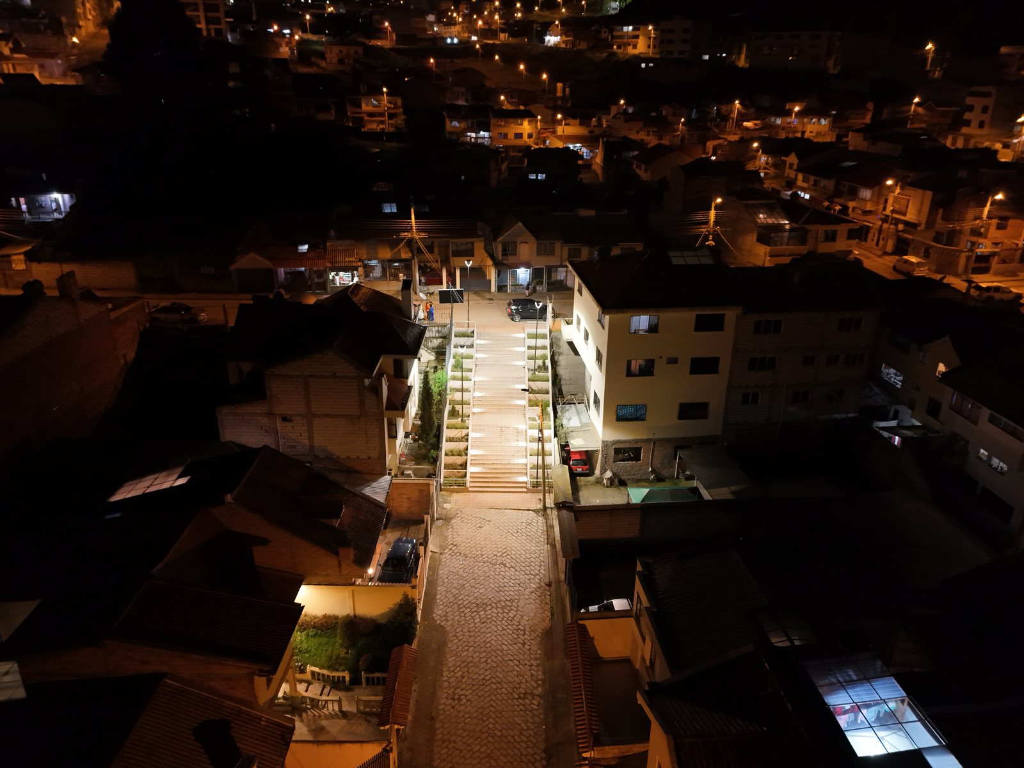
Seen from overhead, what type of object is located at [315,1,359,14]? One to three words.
house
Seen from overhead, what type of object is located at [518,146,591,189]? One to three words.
house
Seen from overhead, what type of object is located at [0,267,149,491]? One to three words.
building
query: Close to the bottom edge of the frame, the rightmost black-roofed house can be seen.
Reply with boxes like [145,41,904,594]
[764,577,1024,768]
